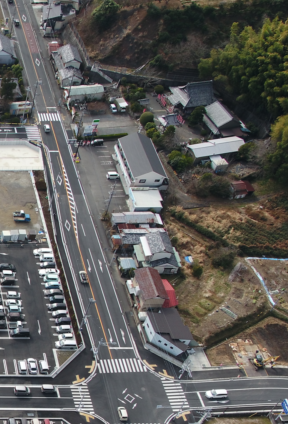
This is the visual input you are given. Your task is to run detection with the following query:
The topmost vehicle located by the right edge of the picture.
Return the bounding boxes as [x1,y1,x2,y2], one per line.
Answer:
[246,352,277,369]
